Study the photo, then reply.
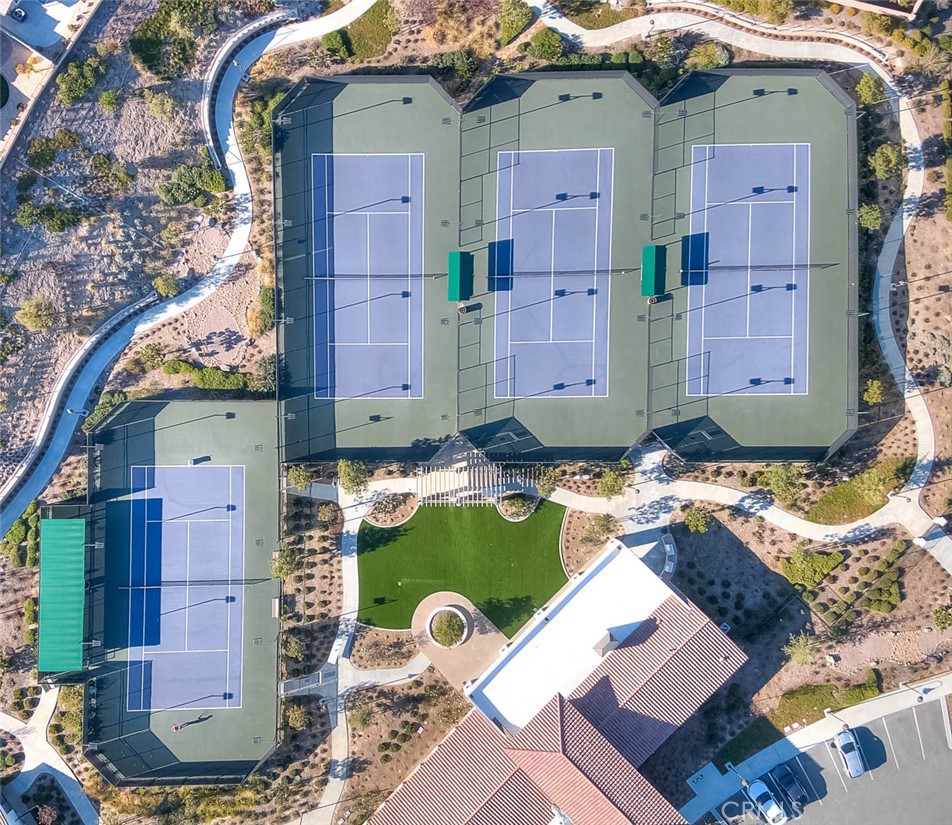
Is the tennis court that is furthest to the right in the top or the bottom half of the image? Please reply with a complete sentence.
Seen from above, the tennis court that is furthest to the right lies in the top half of the view.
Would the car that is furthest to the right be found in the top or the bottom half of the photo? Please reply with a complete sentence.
The car that is furthest to the right is in the bottom half of the image.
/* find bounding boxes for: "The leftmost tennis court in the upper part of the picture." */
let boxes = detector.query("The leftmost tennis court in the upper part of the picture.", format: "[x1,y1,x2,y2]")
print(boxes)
[276,83,461,460]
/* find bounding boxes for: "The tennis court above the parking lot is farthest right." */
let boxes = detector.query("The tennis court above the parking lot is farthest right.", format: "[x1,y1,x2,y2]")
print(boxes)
[647,77,848,460]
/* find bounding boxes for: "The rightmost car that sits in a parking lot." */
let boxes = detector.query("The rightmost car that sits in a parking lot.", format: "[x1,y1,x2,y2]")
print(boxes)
[836,732,867,782]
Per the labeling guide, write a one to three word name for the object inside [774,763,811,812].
car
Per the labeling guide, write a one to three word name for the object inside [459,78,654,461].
tennis court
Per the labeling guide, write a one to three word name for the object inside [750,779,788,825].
car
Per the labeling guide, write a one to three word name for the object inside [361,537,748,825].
building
